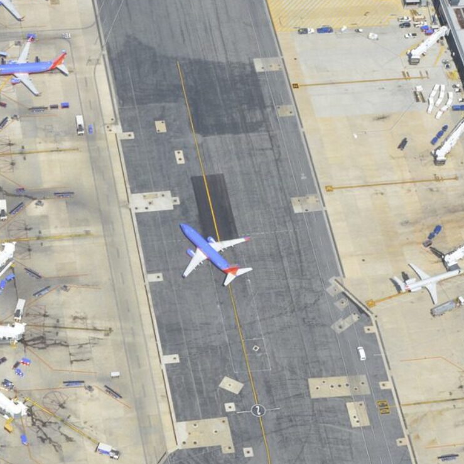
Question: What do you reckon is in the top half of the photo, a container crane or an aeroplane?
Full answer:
There is an aeroplane in the top half of the photo.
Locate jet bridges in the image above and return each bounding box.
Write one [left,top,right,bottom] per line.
[0,390,32,420]
[0,241,16,269]
[446,246,464,272]
[0,324,31,344]
[410,26,446,67]
[436,124,464,167]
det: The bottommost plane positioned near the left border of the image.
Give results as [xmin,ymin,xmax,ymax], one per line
[0,34,68,98]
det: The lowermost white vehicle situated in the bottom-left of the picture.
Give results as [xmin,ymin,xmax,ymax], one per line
[94,439,120,458]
